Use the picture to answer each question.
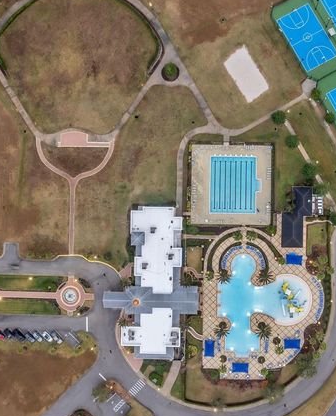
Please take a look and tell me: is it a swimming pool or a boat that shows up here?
swimming pool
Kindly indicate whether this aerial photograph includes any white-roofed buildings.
Yes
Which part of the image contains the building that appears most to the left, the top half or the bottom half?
bottom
